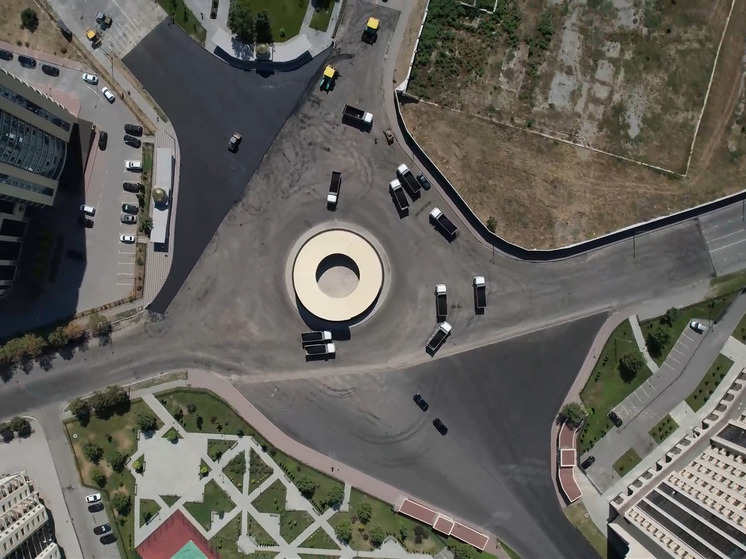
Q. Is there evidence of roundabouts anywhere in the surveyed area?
Yes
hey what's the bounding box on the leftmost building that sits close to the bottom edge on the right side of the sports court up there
[399,496,489,550]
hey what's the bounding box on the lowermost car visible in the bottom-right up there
[581,455,596,469]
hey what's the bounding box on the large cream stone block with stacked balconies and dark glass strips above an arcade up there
[603,363,746,559]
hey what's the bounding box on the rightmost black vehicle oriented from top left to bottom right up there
[608,411,622,426]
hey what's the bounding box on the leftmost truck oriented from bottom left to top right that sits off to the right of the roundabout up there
[426,320,450,350]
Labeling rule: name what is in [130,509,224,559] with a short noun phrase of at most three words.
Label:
sports court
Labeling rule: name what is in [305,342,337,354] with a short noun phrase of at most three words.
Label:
vehicle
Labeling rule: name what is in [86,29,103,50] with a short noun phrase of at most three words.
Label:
work vehicle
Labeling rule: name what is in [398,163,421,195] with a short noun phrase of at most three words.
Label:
truck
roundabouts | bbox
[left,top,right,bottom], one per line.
[285,223,391,329]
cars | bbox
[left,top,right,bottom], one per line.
[124,136,141,146]
[95,523,111,533]
[690,321,707,332]
[120,235,136,242]
[102,87,116,103]
[19,57,36,67]
[85,493,102,502]
[68,250,85,258]
[433,418,447,434]
[417,174,429,190]
[414,394,427,409]
[98,131,108,149]
[581,455,596,469]
[87,502,106,512]
[121,215,138,223]
[82,74,100,84]
[123,183,141,191]
[122,204,139,212]
[79,218,95,226]
[100,533,118,544]
[0,50,15,60]
[608,411,622,426]
[126,161,143,169]
[42,66,60,76]
[125,125,142,134]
